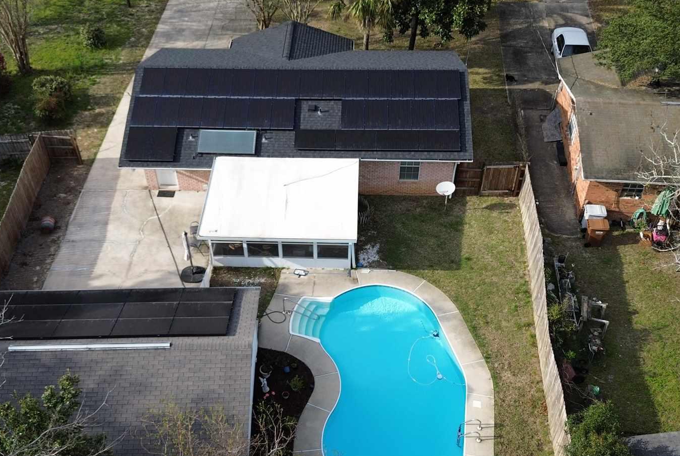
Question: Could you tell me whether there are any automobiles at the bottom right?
No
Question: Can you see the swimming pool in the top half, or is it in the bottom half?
bottom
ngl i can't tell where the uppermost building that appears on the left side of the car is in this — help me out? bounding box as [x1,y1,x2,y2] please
[121,21,474,199]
